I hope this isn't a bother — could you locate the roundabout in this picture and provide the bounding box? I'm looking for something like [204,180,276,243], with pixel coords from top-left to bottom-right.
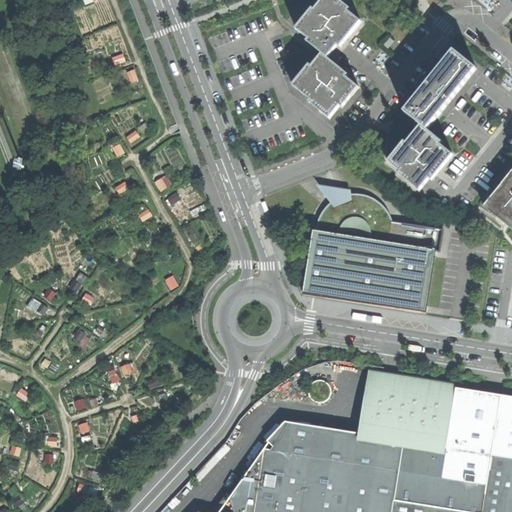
[214,276,296,359]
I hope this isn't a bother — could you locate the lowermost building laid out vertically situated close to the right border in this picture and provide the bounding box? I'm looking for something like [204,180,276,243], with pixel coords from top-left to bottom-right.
[484,168,512,230]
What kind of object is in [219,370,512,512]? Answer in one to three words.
warehouse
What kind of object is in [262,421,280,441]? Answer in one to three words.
vehicle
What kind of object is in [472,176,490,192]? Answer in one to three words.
vehicle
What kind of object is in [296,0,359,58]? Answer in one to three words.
building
